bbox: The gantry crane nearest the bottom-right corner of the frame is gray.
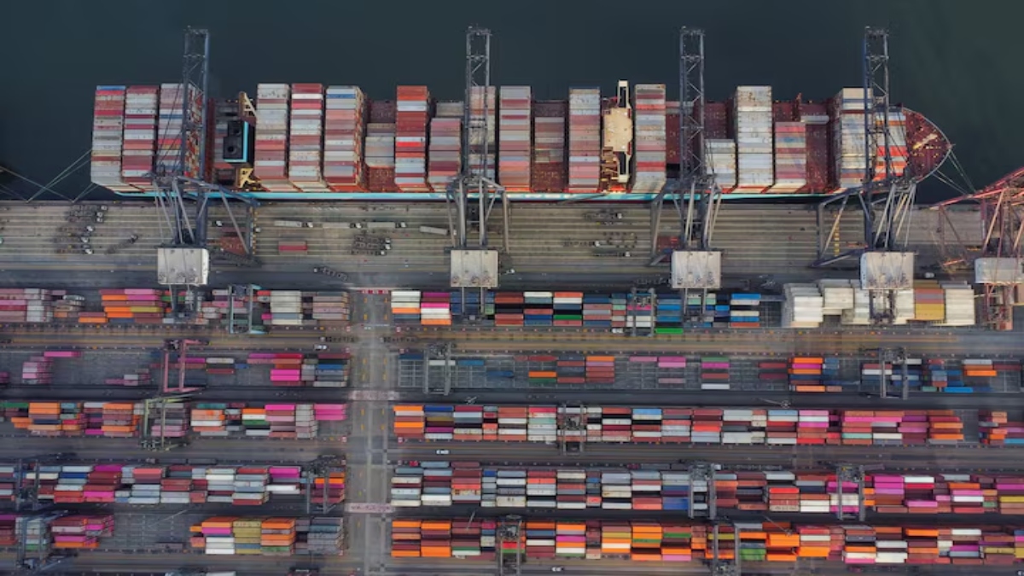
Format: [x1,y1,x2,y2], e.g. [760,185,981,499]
[815,455,863,520]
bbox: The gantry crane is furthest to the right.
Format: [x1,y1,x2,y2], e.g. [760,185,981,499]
[925,167,1024,326]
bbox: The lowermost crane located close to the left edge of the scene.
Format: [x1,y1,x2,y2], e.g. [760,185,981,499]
[16,503,77,574]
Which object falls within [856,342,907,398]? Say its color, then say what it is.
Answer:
gray container crane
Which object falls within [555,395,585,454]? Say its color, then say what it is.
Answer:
gray container crane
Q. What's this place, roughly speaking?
port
